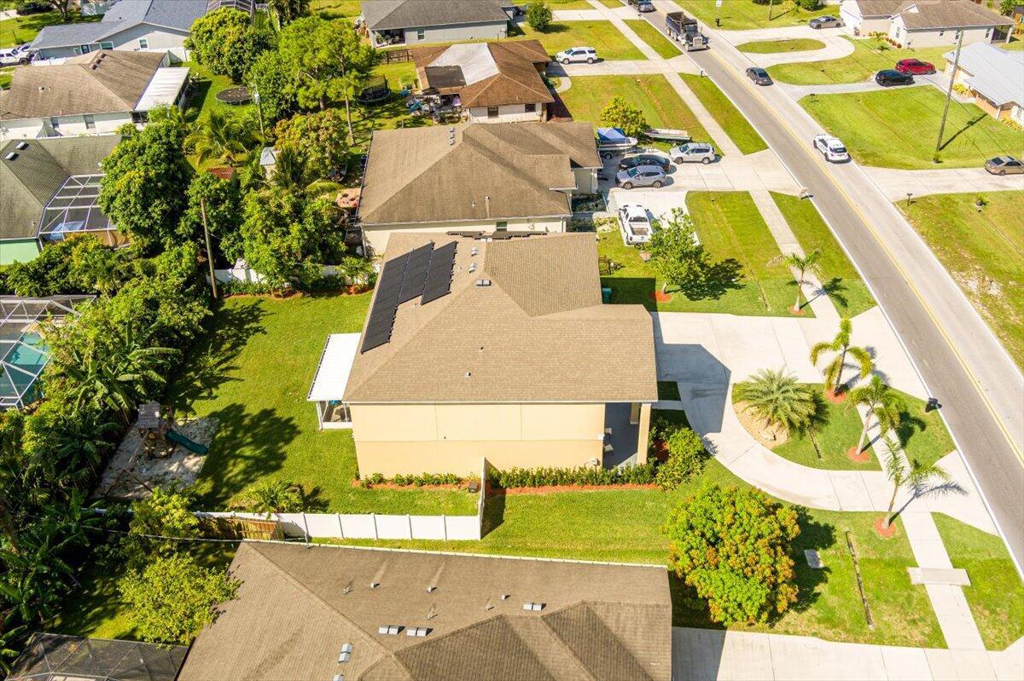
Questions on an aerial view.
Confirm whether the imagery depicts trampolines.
Yes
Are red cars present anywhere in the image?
Yes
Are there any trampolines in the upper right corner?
No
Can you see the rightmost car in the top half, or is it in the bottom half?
top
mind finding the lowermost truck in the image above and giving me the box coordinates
[623,211,651,248]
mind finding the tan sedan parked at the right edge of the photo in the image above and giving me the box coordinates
[980,152,1024,174]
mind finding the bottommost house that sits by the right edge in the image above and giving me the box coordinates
[940,38,1024,129]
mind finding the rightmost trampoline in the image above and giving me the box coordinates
[354,73,391,106]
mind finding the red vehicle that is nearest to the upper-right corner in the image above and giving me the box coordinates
[896,57,937,74]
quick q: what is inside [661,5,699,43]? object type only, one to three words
truck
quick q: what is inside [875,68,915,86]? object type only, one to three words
car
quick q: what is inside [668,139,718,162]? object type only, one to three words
car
